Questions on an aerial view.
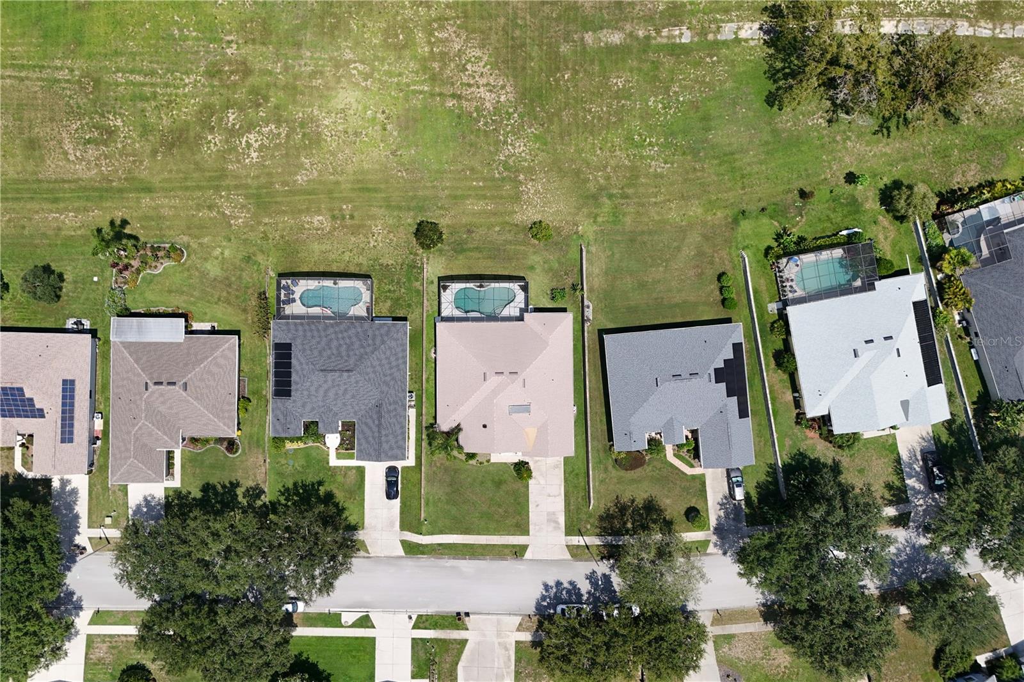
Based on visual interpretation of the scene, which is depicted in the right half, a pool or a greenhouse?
pool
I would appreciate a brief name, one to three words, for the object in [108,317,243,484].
house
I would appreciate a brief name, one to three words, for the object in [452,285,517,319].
swimming pool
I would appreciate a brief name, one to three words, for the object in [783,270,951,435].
house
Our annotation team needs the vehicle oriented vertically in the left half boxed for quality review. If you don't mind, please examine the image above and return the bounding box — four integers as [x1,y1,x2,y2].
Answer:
[383,467,398,501]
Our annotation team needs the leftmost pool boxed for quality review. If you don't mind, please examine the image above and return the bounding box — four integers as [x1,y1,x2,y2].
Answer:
[297,283,365,320]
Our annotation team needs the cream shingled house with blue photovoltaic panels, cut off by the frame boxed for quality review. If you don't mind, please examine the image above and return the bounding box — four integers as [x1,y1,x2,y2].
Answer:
[0,331,99,477]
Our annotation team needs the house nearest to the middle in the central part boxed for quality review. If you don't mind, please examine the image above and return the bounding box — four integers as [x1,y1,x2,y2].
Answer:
[435,313,574,459]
